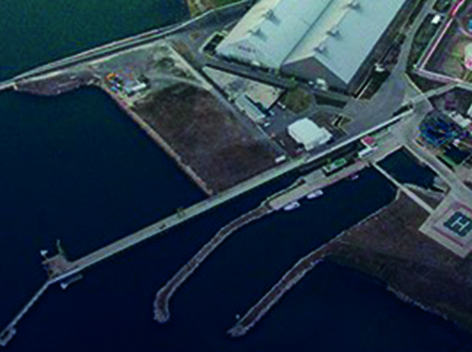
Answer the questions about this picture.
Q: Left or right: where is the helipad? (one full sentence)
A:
The helipad sits on the right side.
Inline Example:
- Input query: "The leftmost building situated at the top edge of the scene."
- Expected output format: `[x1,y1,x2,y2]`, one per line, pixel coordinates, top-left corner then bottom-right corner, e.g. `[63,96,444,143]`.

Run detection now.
[215,0,331,73]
